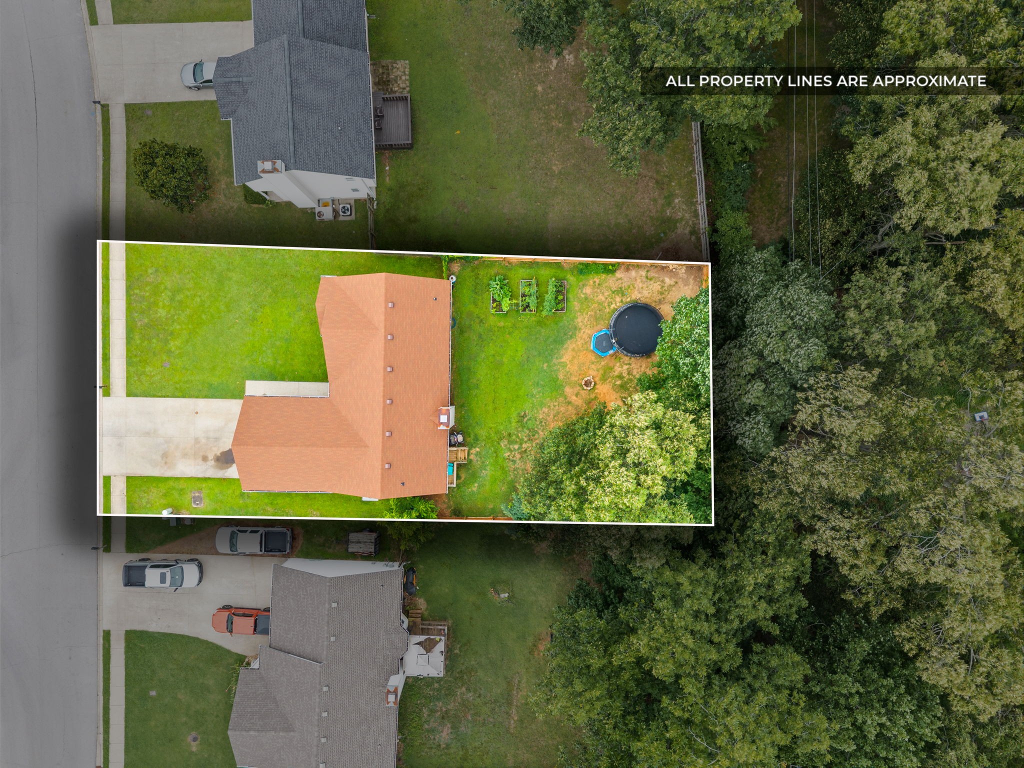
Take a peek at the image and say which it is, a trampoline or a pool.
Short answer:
trampoline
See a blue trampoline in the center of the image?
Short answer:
Yes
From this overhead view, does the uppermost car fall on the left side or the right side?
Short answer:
left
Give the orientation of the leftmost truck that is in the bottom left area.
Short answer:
horizontally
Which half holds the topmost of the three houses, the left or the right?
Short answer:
left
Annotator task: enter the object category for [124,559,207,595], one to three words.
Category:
truck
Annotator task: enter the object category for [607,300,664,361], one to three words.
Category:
trampoline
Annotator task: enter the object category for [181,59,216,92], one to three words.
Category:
car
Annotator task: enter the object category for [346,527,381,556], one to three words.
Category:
trailer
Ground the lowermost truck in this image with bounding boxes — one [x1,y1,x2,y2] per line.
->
[212,603,269,639]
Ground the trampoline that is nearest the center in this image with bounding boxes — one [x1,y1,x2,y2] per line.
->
[590,328,617,358]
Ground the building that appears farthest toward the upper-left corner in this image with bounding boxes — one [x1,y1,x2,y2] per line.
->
[212,0,384,207]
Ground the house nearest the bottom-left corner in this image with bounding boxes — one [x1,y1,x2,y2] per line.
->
[228,558,412,768]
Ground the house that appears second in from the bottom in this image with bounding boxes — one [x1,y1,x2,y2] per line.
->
[230,273,457,500]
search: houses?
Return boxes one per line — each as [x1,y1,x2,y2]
[228,558,412,768]
[230,273,457,500]
[212,0,384,207]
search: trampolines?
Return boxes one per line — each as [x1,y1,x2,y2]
[607,300,664,361]
[590,328,617,358]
